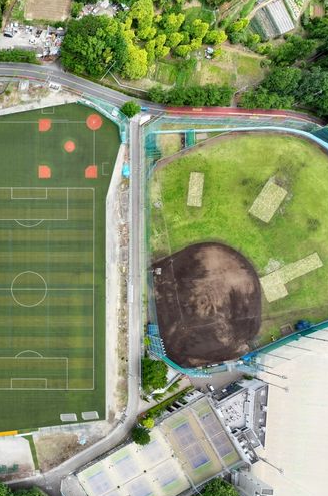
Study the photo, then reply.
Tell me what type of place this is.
sports ground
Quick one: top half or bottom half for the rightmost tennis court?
bottom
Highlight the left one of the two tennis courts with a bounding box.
[79,426,196,496]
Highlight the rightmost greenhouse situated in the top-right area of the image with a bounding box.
[266,0,293,35]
